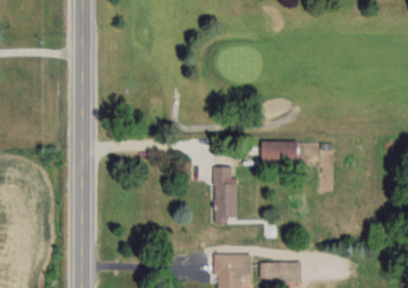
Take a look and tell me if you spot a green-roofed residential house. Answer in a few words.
No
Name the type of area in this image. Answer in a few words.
golf course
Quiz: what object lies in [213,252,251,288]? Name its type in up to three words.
house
